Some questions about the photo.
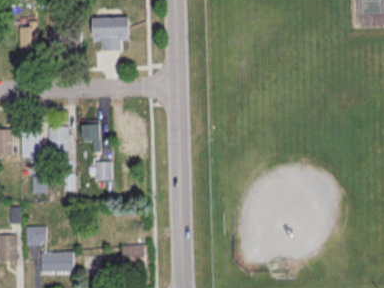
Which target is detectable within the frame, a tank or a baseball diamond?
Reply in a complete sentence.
The image shows a baseball diamond.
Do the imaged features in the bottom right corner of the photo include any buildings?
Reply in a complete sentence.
No, I can find no building in the bottom right corner of the photo.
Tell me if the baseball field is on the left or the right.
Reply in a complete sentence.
It is on the right.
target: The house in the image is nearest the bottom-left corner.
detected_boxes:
[0,235,18,264]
